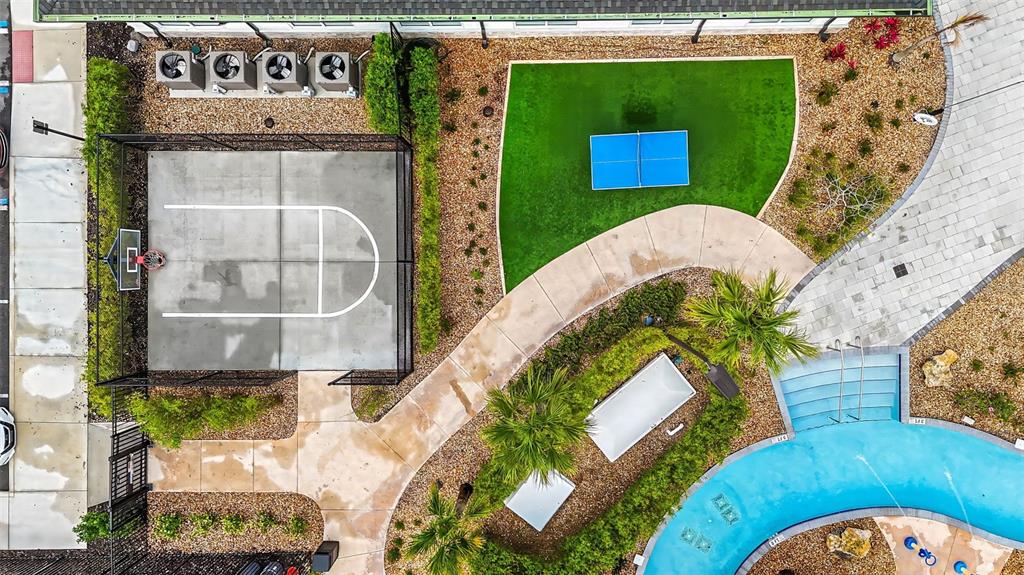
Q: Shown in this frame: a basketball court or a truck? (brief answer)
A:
basketball court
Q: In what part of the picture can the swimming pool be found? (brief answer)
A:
bottom right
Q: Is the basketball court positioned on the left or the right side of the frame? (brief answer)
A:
left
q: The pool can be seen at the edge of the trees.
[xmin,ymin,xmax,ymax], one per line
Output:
[635,344,1024,575]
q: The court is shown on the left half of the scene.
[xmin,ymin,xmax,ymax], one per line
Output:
[148,151,412,371]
